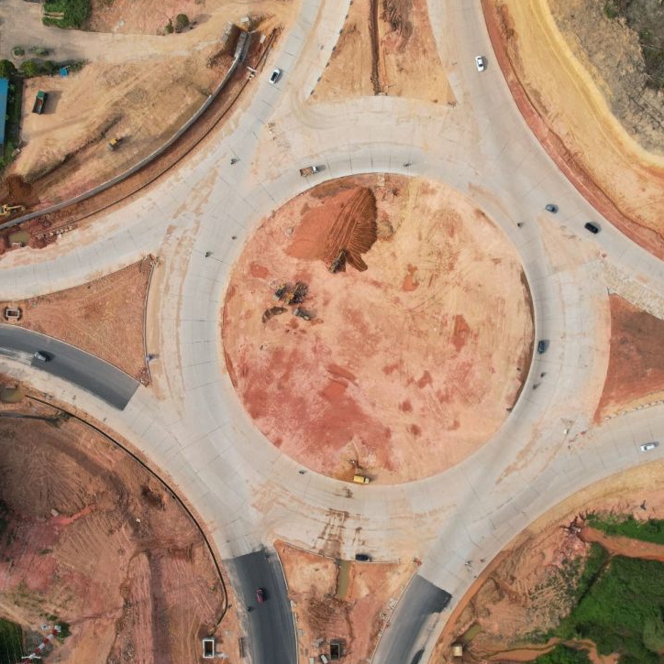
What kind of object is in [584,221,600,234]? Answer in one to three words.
vehicle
